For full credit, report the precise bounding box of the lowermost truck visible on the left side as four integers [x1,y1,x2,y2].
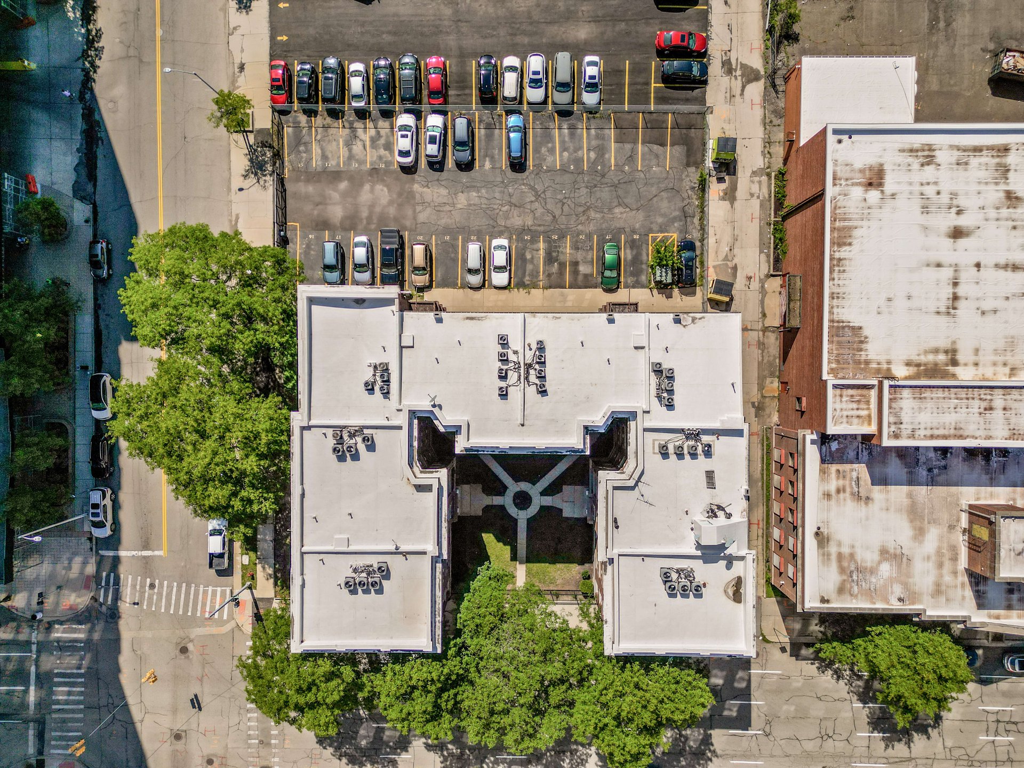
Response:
[204,517,230,570]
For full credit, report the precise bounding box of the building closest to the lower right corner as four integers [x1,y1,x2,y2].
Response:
[769,426,1024,632]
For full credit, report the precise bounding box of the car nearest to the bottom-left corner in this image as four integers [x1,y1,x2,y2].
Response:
[87,486,116,538]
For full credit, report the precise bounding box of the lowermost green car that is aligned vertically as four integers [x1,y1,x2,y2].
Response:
[599,243,622,290]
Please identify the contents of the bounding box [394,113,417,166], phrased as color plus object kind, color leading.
white car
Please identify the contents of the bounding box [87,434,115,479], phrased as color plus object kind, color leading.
black car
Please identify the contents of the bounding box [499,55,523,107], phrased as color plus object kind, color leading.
white car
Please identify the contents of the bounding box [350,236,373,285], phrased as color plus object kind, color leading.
gray car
